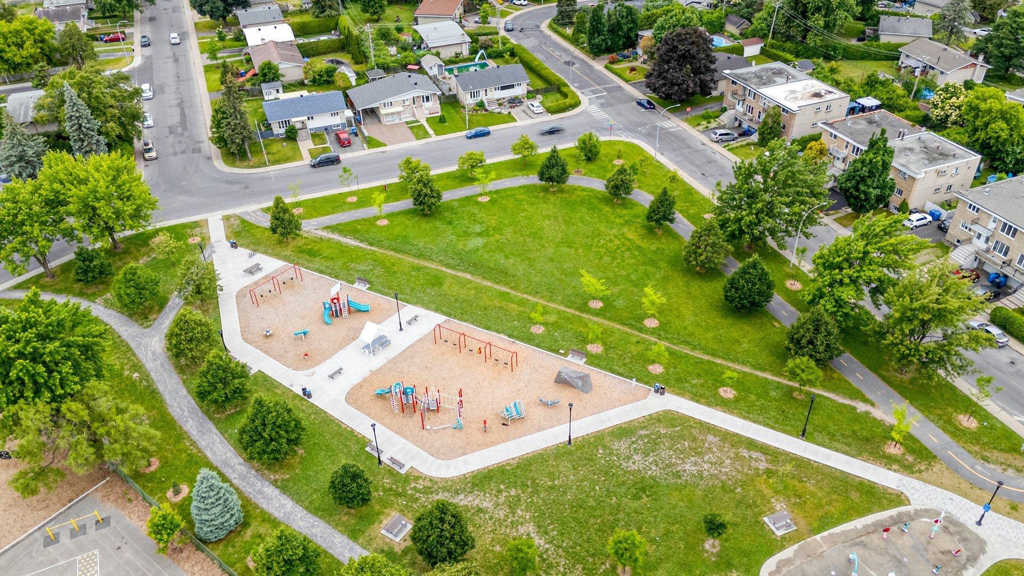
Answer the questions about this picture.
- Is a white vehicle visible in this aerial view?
Yes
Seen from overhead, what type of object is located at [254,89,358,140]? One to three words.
house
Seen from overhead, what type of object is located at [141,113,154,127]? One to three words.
vehicle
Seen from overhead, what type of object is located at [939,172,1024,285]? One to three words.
building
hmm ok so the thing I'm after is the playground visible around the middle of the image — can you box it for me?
[285,264,654,389]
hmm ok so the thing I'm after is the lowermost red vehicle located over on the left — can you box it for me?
[336,132,351,145]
